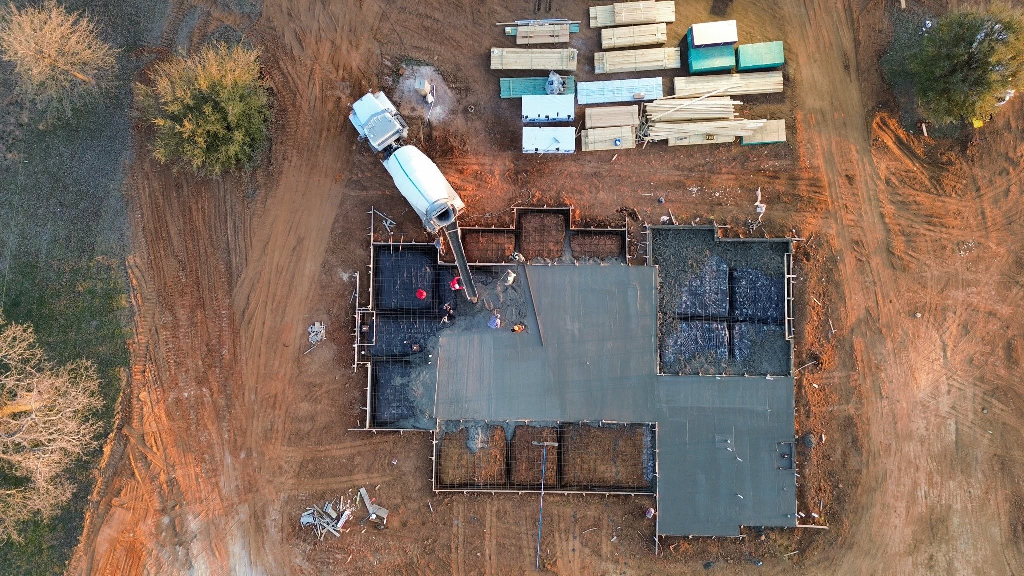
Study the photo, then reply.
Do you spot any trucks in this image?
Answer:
Yes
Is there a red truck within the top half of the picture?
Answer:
No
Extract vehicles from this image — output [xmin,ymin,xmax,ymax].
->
[347,90,478,301]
